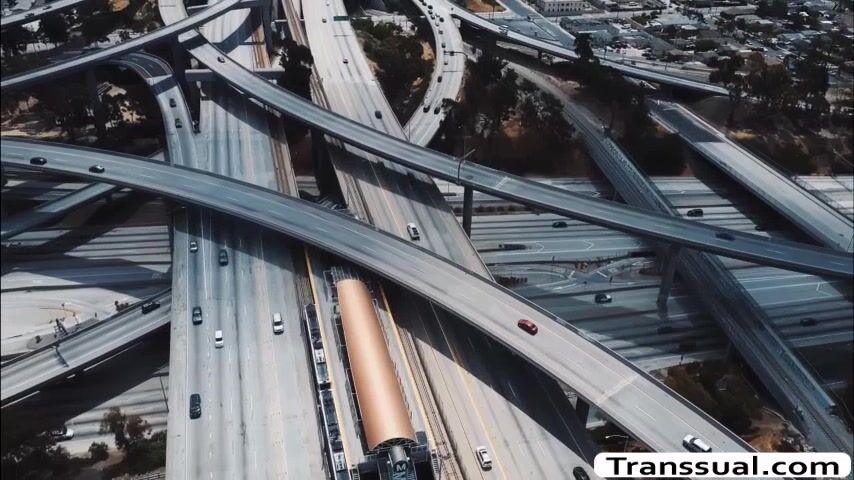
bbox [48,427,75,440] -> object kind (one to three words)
vehicle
